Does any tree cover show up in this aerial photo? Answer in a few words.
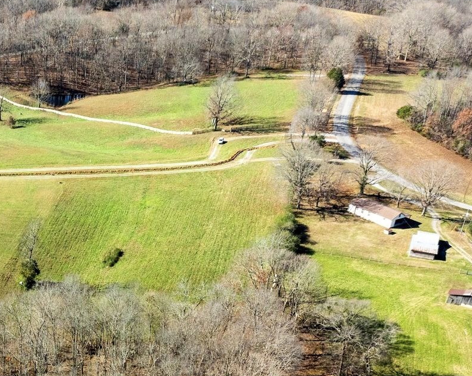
Yes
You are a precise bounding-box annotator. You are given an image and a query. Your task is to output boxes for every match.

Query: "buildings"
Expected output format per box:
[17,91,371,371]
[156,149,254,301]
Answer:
[446,287,472,308]
[408,230,440,261]
[347,193,430,231]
